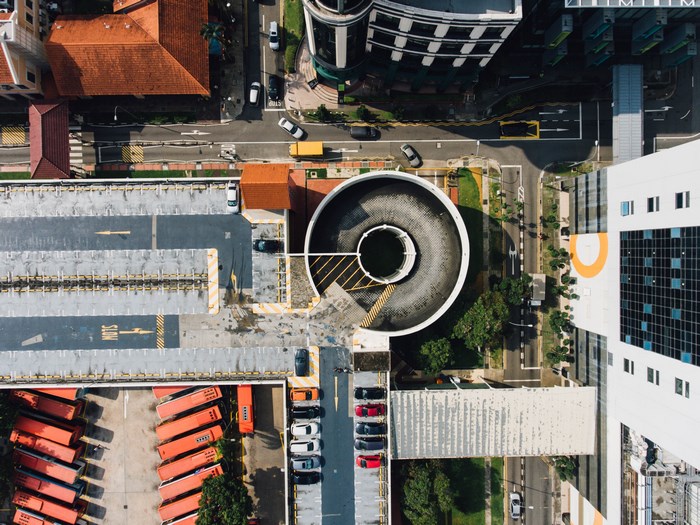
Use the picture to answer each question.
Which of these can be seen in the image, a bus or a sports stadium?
bus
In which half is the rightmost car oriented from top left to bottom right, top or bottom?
top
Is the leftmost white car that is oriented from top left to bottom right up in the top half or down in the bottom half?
top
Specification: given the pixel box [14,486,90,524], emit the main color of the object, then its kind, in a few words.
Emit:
red bus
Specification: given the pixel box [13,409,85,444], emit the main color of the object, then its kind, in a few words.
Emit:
red bus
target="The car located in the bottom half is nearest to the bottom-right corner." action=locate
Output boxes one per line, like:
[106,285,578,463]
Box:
[509,489,521,518]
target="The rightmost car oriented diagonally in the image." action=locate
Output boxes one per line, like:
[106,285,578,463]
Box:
[400,142,421,168]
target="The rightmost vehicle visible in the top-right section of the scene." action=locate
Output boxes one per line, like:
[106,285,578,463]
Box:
[502,124,530,136]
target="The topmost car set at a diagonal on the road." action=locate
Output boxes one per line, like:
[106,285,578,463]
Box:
[278,118,304,141]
